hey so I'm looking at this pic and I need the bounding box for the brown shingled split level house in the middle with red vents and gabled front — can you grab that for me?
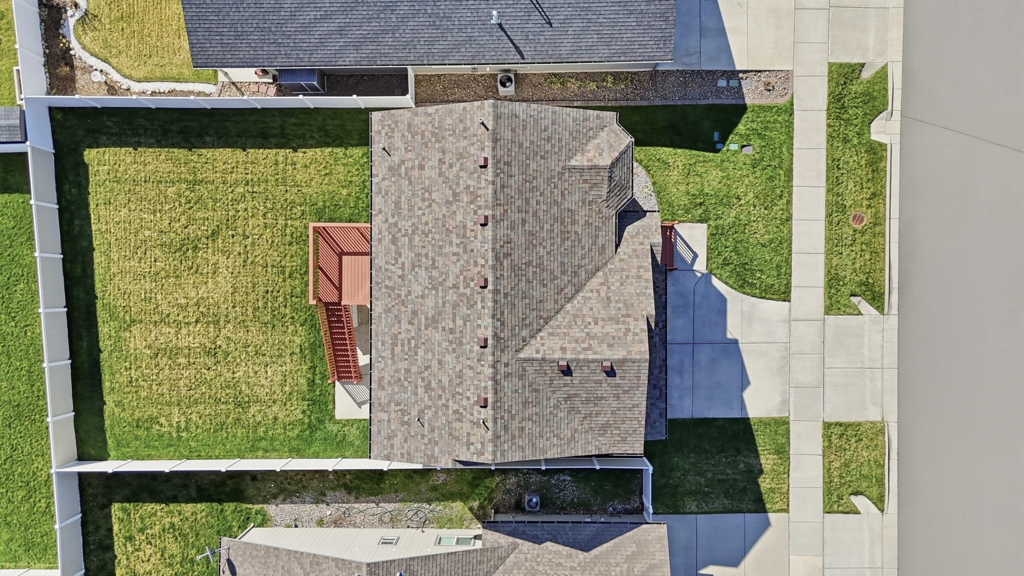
[370,100,667,464]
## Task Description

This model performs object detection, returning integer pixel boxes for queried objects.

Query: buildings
[221,501,671,576]
[180,0,677,91]
[0,107,27,144]
[370,100,667,464]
